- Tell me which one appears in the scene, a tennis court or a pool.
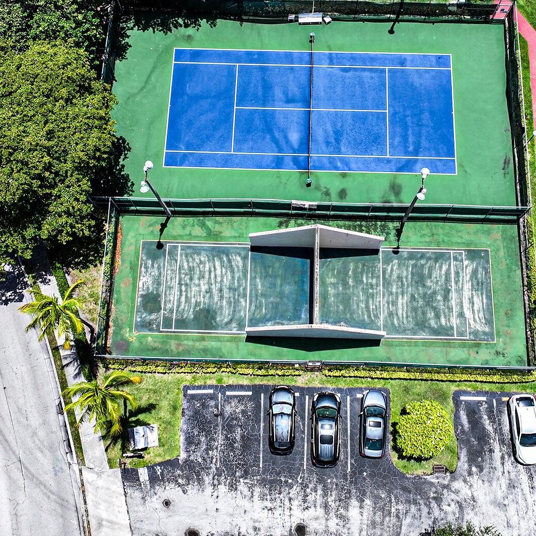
tennis court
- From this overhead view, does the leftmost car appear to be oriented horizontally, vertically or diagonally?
vertically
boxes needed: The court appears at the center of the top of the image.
[101,12,517,217]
